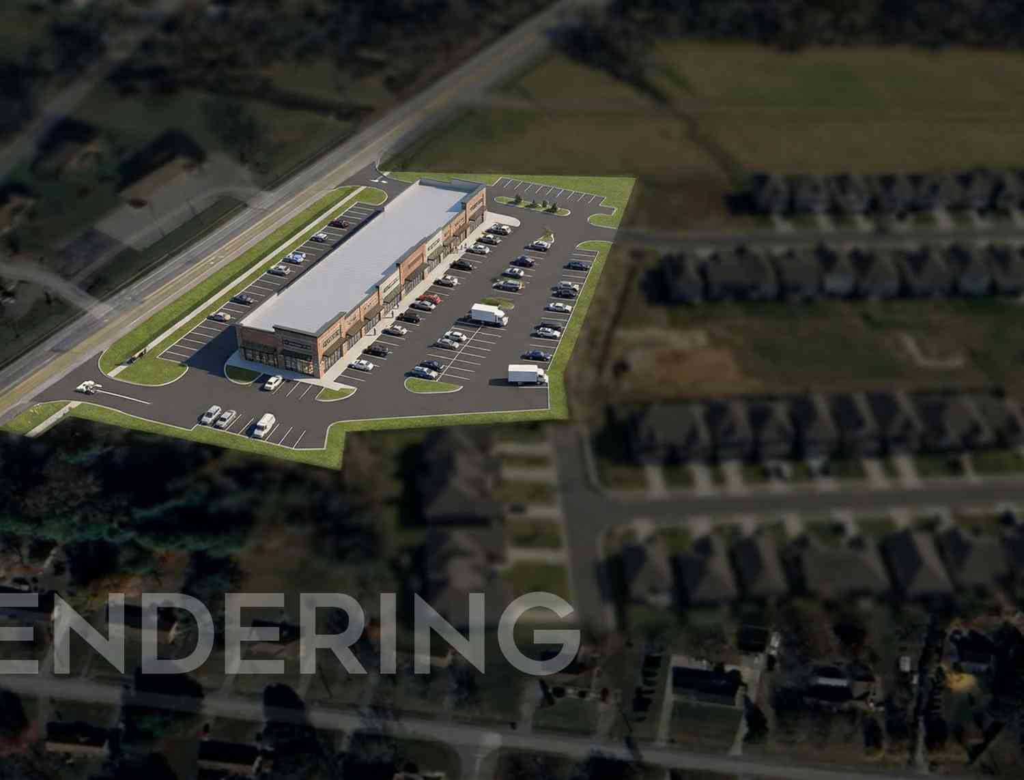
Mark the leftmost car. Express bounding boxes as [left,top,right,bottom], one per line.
[76,381,96,393]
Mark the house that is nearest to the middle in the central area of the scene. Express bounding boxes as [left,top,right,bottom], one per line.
[427,416,500,465]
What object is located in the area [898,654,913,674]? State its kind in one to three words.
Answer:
vehicle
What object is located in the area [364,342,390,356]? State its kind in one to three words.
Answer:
car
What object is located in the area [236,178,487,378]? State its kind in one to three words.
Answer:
building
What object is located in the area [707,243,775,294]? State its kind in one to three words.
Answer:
house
